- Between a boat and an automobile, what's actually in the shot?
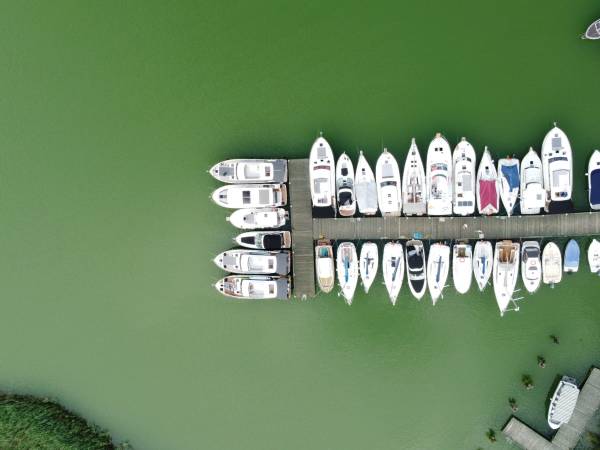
boat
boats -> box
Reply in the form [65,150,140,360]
[382,240,404,307]
[359,240,379,295]
[426,240,450,306]
[205,159,294,183]
[582,22,600,39]
[491,237,524,318]
[208,183,294,210]
[309,132,336,219]
[233,231,298,249]
[452,137,476,220]
[425,131,452,220]
[335,151,356,221]
[316,240,336,294]
[542,239,562,288]
[336,238,359,306]
[520,236,542,294]
[518,147,544,215]
[210,274,296,300]
[550,374,582,429]
[401,135,427,221]
[453,239,472,294]
[564,236,580,277]
[376,148,403,222]
[405,240,427,301]
[587,235,600,277]
[472,236,492,293]
[497,156,522,217]
[209,250,298,274]
[226,208,291,228]
[543,123,575,218]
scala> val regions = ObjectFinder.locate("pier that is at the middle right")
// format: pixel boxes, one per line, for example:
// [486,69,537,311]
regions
[288,158,600,298]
